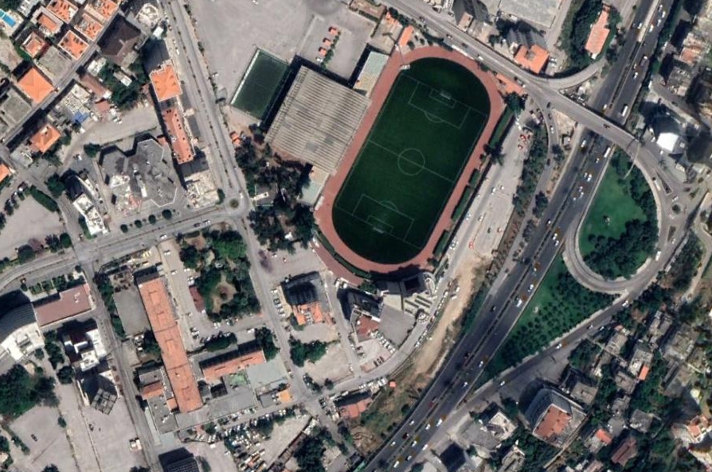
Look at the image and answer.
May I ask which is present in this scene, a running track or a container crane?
running track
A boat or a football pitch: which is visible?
football pitch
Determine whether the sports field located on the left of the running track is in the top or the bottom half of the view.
top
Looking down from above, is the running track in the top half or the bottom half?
top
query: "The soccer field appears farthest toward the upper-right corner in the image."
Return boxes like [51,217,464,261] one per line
[335,56,489,265]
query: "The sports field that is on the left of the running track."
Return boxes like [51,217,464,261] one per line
[227,47,289,121]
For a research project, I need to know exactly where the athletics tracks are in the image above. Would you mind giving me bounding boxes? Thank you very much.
[322,45,498,275]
